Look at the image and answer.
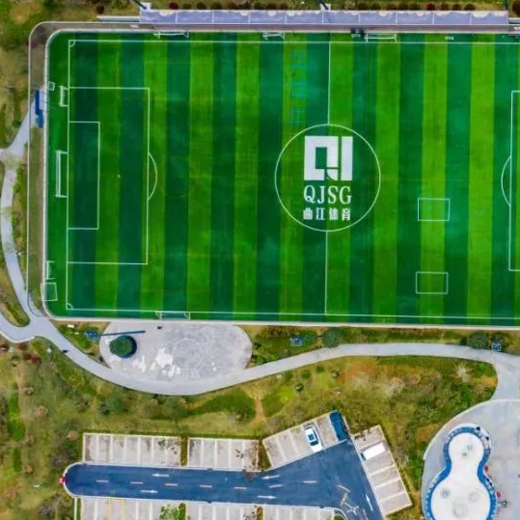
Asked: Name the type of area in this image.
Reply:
sports ground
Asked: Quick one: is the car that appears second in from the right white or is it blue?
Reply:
blue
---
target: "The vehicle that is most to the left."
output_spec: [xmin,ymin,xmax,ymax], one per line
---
[302,423,322,452]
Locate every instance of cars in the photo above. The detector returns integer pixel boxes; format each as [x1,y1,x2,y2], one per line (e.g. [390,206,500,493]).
[302,423,322,452]
[328,411,348,440]
[358,442,388,461]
